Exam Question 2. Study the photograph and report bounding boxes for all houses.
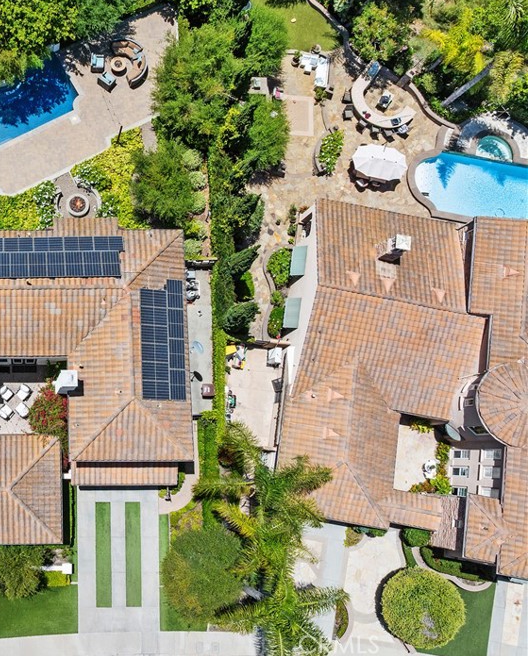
[265,198,528,579]
[0,218,197,546]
